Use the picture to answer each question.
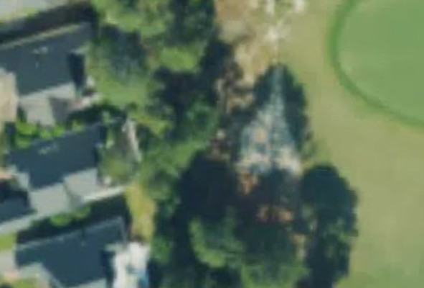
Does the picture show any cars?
No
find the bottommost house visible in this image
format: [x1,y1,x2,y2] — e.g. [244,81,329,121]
[19,219,126,288]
